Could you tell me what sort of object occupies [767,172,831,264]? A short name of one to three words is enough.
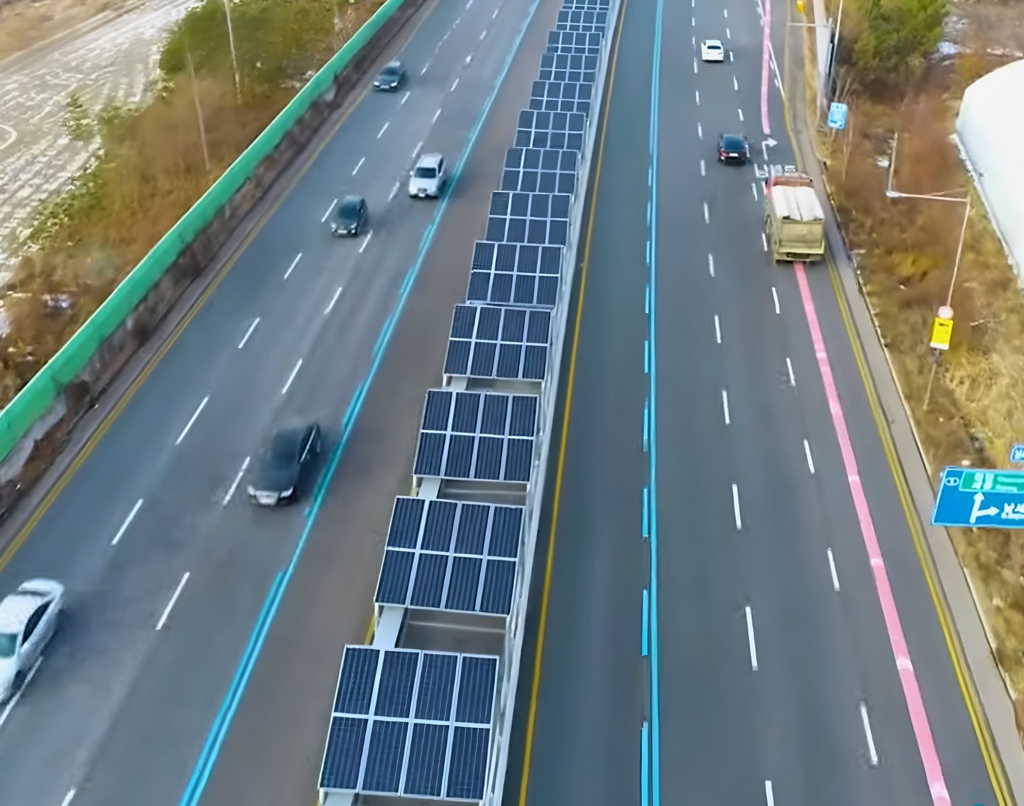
truck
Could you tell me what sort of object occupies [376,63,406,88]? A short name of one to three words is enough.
car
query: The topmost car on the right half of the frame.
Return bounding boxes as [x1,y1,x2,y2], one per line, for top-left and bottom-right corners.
[699,39,724,60]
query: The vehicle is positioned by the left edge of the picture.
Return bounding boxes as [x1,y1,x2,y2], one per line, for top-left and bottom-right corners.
[0,578,66,688]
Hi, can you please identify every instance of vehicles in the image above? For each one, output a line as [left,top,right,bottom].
[250,424,319,506]
[410,153,447,195]
[376,63,406,88]
[715,135,747,164]
[329,197,371,237]
[699,39,724,60]
[767,172,831,264]
[0,578,66,688]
